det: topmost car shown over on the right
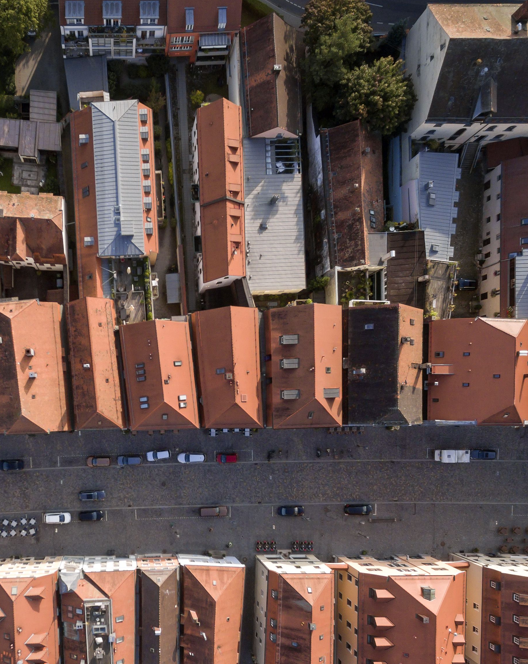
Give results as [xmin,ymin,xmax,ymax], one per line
[453,277,477,290]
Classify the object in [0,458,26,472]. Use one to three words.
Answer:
vehicle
